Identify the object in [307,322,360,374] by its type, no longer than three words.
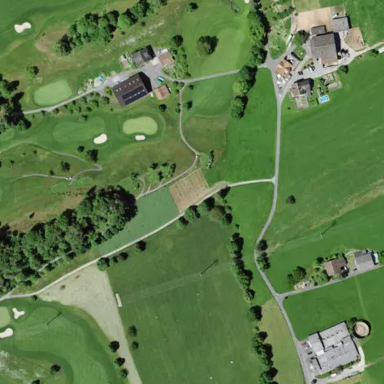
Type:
building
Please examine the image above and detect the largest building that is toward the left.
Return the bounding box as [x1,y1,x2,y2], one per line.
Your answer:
[112,73,149,107]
